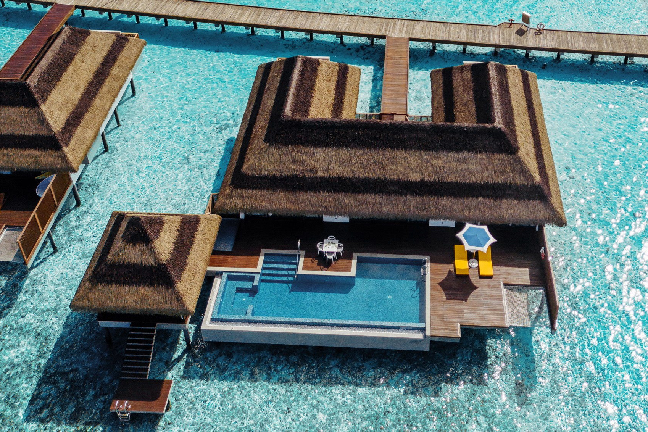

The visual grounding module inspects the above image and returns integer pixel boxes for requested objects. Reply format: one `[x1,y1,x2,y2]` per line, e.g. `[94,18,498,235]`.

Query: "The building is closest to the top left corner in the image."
[0,24,147,214]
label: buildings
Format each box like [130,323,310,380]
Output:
[67,208,224,354]
[213,50,568,231]
[0,24,147,214]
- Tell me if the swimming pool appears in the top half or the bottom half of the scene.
bottom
